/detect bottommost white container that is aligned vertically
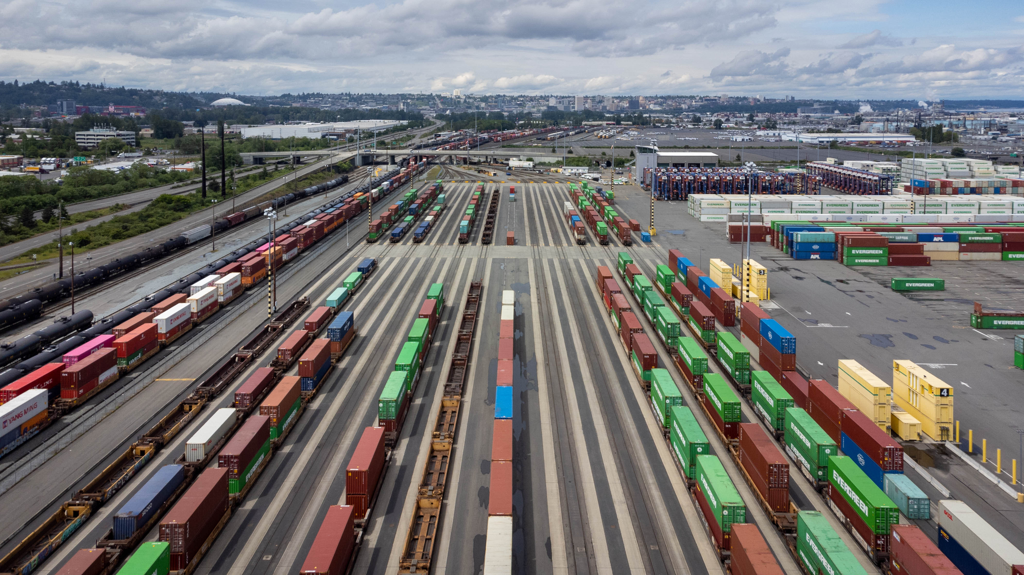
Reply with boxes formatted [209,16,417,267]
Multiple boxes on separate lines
[484,517,512,575]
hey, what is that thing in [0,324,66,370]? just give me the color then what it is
black rail car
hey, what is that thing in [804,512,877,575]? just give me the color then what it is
green shipping container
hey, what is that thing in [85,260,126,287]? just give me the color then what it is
black rail car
